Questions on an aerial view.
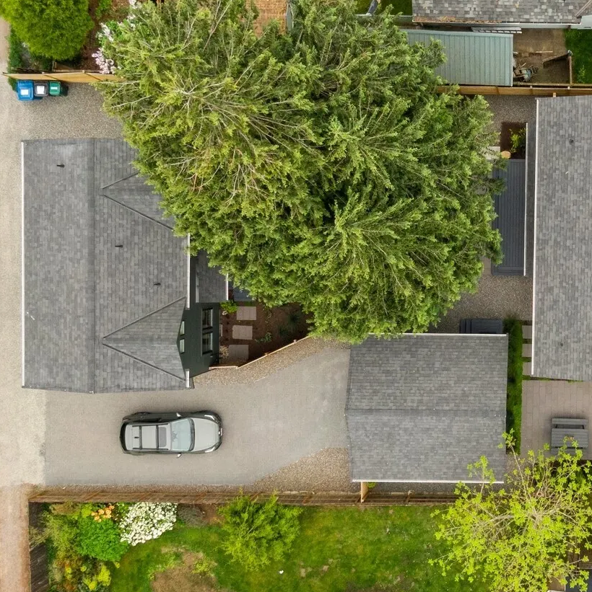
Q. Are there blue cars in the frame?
No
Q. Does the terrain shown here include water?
No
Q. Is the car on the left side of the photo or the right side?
left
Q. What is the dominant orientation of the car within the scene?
horizontally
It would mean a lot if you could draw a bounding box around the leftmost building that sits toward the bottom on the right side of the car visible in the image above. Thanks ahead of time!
[346,332,507,484]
